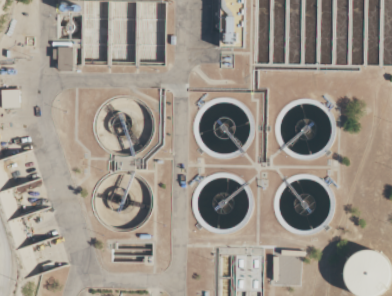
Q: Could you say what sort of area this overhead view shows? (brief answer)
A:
industrial area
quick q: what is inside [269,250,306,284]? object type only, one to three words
building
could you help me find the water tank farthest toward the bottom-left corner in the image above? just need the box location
[92,170,152,230]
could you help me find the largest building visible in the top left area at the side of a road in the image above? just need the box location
[52,41,81,71]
